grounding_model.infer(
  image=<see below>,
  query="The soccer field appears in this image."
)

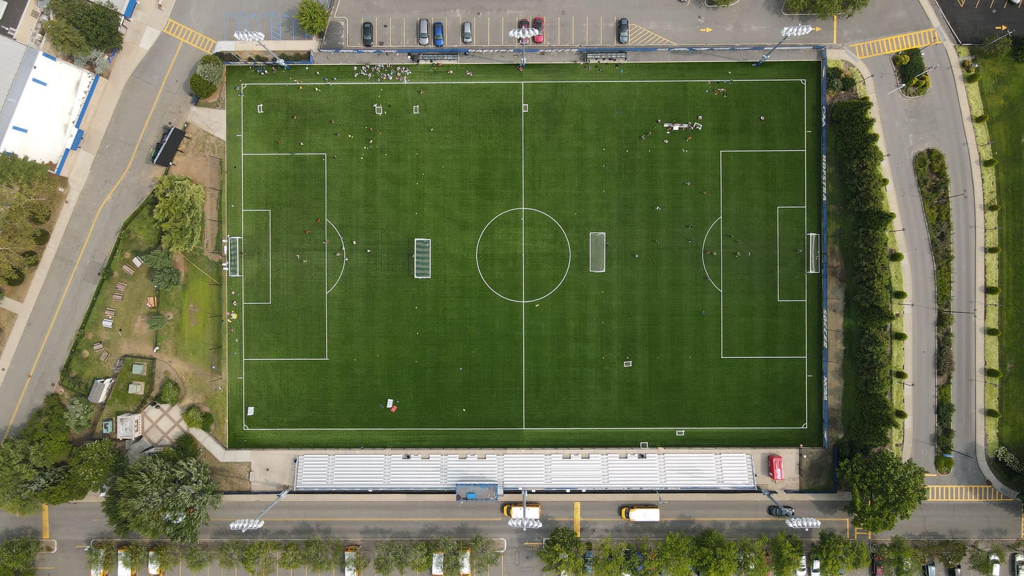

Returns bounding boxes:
[225,60,824,450]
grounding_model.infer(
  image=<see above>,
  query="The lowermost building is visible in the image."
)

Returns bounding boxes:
[109,414,142,443]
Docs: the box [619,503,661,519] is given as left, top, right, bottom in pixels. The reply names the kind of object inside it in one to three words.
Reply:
vehicle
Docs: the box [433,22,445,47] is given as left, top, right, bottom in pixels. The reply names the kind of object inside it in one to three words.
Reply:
vehicle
